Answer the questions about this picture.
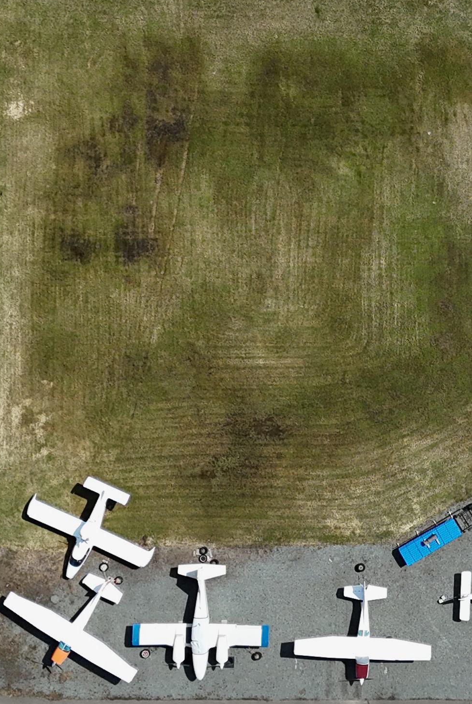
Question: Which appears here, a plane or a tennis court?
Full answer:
I can see a plane in this picture.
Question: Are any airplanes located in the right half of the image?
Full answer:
Yes, in the right half of the image there is an airplane.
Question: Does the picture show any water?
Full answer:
No, the scene doesn't show any water.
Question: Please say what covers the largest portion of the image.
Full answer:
The largest share of the image is taken up by grass.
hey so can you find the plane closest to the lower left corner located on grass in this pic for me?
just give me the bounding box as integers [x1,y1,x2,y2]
[5,572,136,684]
